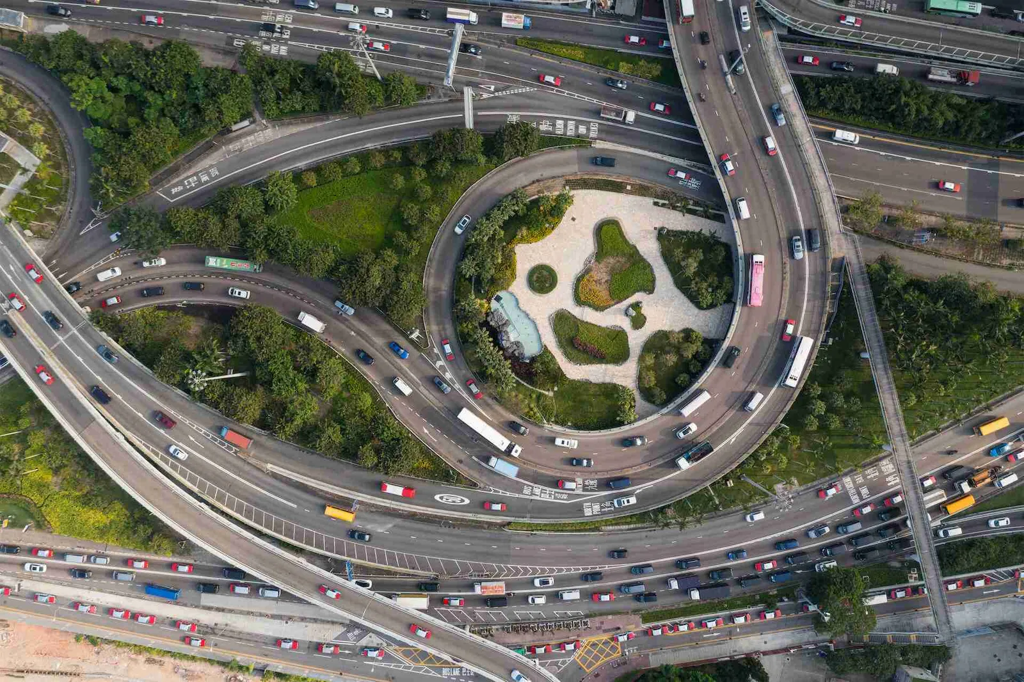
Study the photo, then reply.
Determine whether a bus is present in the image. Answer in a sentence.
Yes, the photo shows a bus.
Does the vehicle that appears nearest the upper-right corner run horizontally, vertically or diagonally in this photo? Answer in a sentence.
What the image shows is the vehicle that appears nearest the upper-right corner lying horizontally.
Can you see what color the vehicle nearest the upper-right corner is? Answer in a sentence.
From above, the vehicle nearest the upper-right corner appears black.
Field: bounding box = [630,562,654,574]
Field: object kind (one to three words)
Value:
vehicle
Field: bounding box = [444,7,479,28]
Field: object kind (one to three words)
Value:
truck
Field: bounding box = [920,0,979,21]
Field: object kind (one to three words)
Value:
bus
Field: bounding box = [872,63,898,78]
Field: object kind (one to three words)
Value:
vehicle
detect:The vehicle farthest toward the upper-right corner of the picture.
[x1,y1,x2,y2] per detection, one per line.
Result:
[978,5,1016,25]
